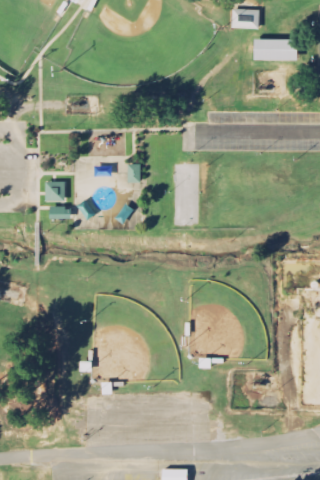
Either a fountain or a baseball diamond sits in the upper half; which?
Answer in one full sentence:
What appears in the upper half is a baseball diamond.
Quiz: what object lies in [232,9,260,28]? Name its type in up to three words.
house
